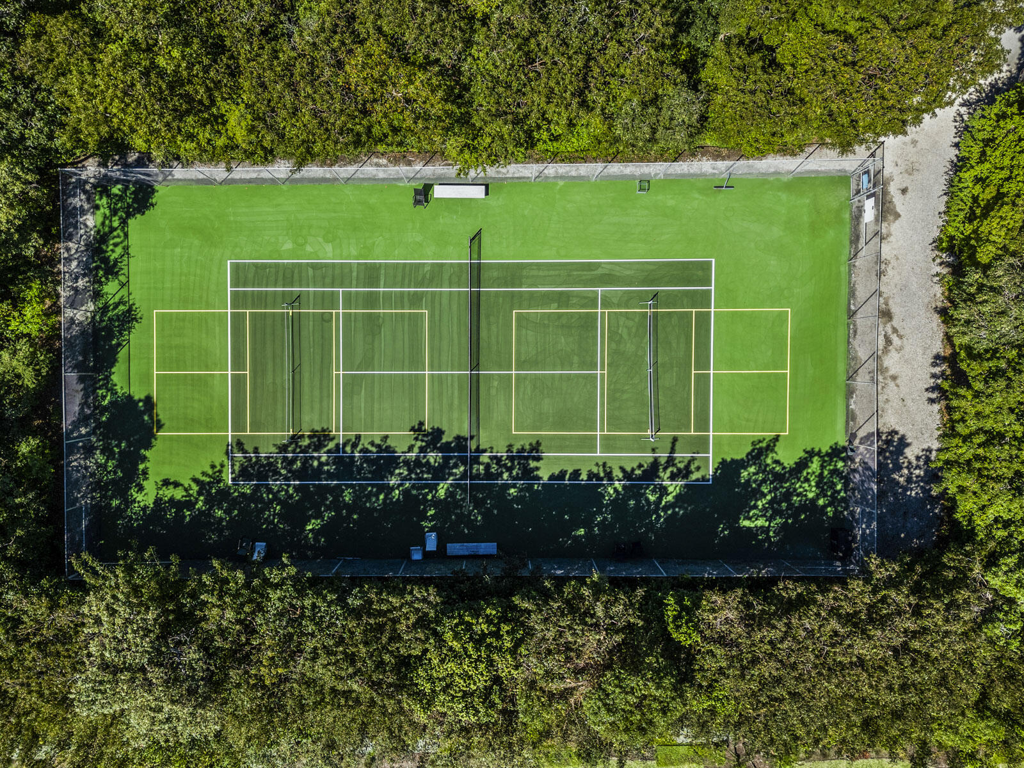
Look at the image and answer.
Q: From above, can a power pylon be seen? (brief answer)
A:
No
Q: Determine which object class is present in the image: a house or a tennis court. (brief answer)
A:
tennis court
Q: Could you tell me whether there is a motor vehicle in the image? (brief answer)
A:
No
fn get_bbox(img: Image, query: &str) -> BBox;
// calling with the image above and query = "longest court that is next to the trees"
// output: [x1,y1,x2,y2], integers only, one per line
[93,170,851,561]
